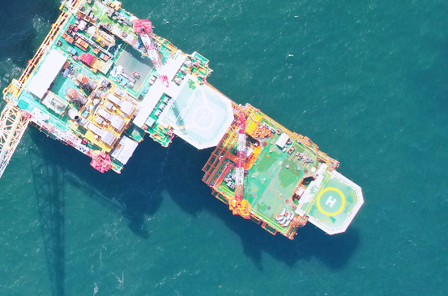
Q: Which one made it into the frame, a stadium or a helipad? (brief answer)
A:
helipad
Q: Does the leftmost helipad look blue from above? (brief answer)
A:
No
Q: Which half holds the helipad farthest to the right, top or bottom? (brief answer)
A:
bottom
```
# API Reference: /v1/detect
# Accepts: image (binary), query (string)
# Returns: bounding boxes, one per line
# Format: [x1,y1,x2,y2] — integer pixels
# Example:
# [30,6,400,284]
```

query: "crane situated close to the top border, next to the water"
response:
[126,13,169,85]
